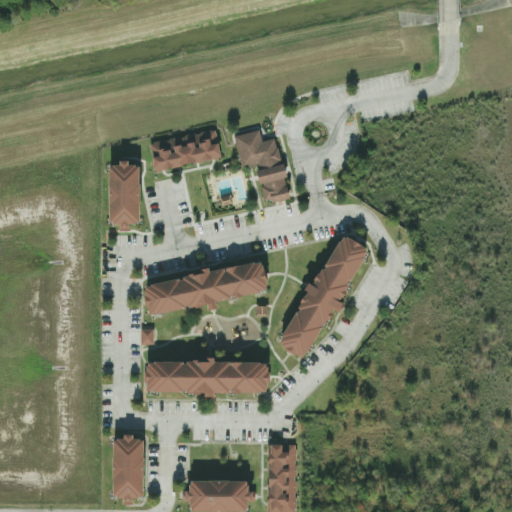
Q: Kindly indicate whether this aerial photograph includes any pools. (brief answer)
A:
Yes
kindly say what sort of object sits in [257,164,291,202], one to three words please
building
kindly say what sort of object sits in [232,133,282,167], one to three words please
building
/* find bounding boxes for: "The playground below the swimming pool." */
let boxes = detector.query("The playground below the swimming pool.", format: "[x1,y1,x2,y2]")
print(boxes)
[195,316,259,349]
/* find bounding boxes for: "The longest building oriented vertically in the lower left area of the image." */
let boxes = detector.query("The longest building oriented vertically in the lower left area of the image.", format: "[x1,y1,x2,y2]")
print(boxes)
[112,436,144,506]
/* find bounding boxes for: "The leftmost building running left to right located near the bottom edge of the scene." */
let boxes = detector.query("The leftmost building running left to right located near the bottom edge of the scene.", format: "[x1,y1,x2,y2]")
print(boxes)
[185,481,254,512]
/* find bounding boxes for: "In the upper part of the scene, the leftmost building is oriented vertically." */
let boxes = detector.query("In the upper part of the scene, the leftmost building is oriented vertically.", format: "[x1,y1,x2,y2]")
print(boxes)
[108,160,140,230]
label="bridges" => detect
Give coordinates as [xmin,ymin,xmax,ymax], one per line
[438,0,461,36]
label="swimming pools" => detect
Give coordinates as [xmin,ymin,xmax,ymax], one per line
[208,169,250,210]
